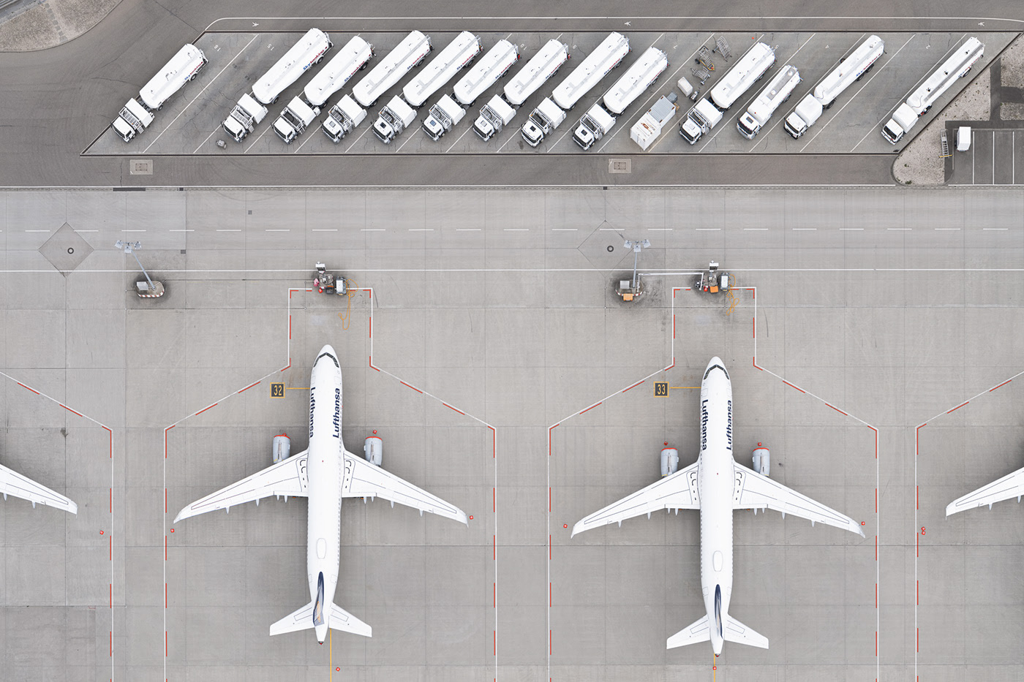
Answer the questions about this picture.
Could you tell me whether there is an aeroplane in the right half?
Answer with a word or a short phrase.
Yes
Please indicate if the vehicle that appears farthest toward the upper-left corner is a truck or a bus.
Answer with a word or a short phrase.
truck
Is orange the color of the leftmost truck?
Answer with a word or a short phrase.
No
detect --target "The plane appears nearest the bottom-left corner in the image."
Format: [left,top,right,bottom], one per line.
[0,465,78,519]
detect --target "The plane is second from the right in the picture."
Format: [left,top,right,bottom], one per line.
[572,356,866,659]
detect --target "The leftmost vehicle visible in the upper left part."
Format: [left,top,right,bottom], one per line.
[107,44,205,144]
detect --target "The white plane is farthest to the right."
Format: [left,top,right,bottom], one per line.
[944,465,1024,521]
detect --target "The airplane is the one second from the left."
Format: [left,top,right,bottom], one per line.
[173,344,467,647]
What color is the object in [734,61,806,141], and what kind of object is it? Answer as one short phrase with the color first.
white truck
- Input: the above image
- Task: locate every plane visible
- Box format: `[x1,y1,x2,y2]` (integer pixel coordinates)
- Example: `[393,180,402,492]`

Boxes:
[173,344,467,647]
[944,465,1024,521]
[572,356,866,659]
[0,465,78,519]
